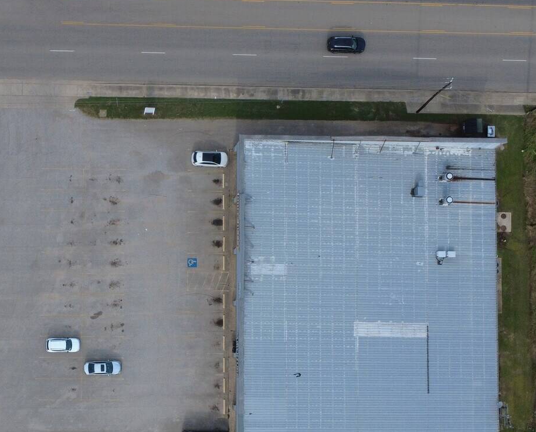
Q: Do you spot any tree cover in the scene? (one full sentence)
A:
No, there is no tree cover in the image.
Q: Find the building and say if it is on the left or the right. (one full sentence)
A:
It is on the right.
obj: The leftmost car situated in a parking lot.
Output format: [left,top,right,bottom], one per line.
[46,337,80,353]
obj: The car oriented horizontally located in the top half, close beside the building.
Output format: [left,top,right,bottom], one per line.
[191,150,226,168]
